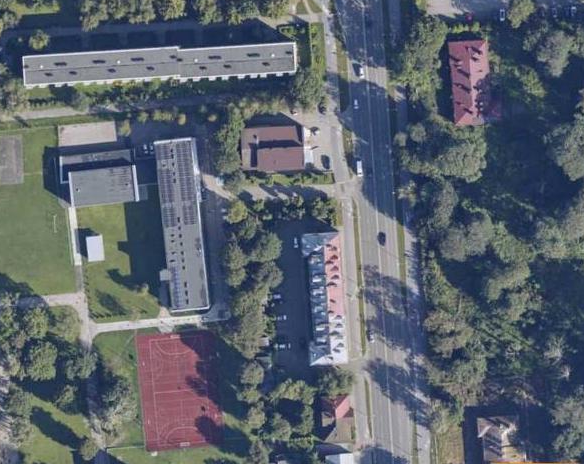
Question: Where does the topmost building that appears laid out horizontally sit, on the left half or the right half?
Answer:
left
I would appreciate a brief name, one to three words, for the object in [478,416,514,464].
house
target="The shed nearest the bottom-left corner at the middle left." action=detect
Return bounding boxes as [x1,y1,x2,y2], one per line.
[86,233,105,262]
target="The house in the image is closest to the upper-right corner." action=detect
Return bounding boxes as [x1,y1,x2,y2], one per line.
[449,41,501,126]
